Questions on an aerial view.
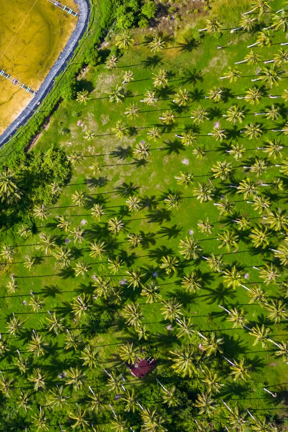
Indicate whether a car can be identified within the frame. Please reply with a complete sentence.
No, I find no car anywhere in the image.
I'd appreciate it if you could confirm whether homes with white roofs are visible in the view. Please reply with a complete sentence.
No, the photo shows no home with a white roof.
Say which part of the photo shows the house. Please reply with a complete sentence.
The house appears toward the bottom of the photo.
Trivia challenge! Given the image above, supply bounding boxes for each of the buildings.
[128,354,155,379]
